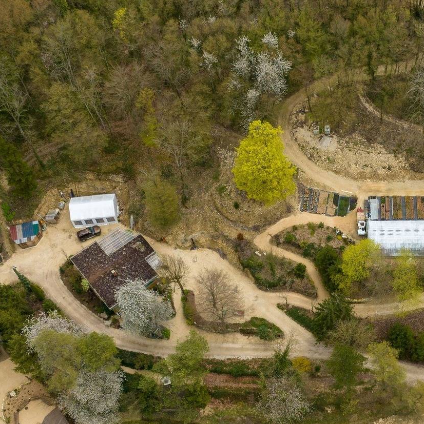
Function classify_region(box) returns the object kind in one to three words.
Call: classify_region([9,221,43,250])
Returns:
shed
